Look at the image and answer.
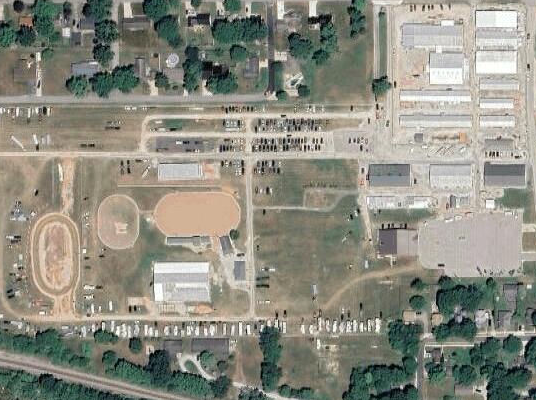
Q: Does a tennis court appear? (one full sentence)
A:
No, no tennis court can be seen from above.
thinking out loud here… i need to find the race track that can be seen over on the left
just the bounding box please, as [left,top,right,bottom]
[29,212,81,298]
